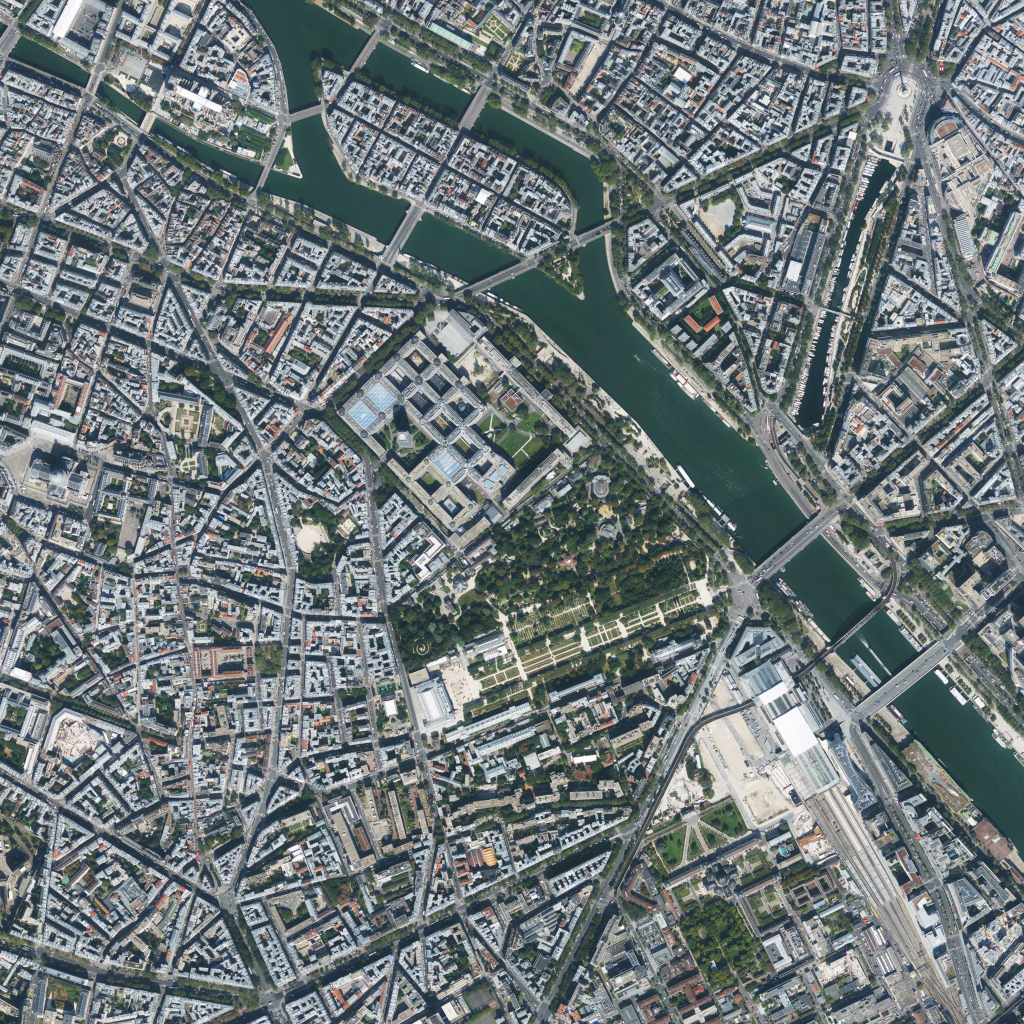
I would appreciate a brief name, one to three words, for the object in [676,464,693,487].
boat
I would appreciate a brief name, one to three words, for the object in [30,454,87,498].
building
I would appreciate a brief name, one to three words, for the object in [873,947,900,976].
shed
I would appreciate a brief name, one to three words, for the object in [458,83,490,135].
bridge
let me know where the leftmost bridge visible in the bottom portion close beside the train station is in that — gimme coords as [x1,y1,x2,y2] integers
[618,699,755,889]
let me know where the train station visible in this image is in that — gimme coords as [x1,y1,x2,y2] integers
[738,657,839,793]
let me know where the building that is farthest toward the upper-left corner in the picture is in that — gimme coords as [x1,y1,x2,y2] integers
[21,0,116,62]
